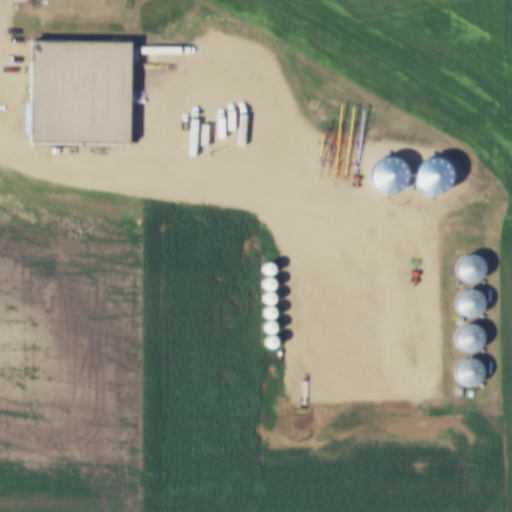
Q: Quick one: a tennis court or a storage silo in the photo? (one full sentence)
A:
Looking from above, you can make out a storage silo.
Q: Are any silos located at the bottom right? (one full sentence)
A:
Yes, there is a silo at the bottom right.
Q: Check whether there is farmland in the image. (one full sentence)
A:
Yes, there is farmland in the image.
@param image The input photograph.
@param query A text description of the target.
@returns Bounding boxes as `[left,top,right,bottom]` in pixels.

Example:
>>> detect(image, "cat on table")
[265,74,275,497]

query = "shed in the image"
[25,40,147,146]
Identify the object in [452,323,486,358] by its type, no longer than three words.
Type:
silo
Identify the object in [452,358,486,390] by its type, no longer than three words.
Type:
silo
